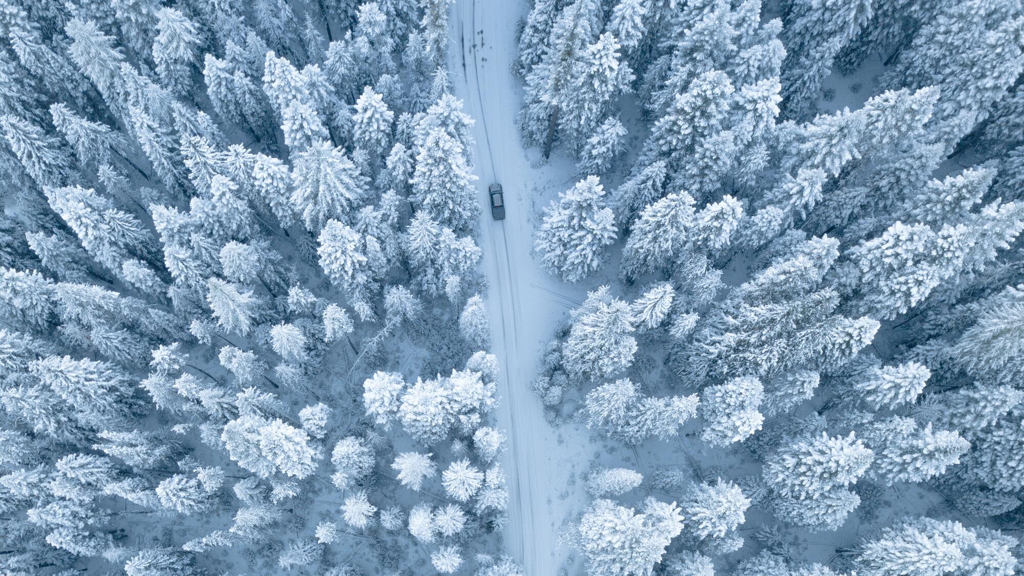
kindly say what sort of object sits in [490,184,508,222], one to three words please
vehicle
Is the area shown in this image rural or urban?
rural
